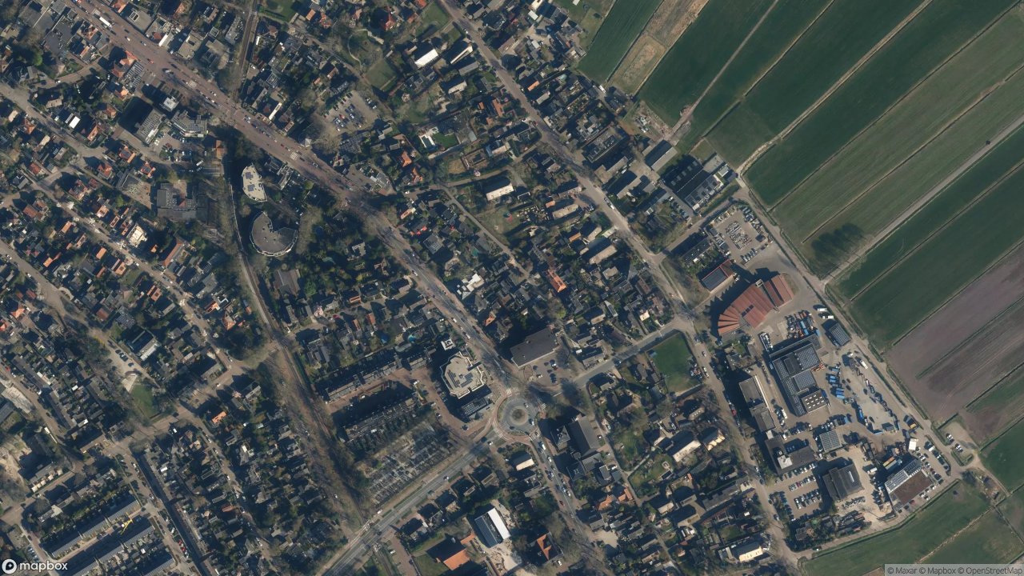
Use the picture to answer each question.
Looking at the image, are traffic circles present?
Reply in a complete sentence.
Yes, there is a traffic circle in the image.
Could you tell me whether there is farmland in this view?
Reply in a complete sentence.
Yes, there is farmland in the image.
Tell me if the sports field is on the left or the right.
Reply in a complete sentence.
You can find the sports field on the right side of the picture.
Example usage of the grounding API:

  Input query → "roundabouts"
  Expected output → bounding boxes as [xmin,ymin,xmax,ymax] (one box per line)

[489,385,548,444]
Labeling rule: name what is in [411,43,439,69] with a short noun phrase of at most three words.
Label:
house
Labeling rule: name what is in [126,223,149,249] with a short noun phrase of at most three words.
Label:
building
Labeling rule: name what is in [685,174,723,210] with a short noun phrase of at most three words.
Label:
building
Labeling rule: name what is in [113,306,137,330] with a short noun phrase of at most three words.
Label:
house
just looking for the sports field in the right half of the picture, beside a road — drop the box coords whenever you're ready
[646,330,702,393]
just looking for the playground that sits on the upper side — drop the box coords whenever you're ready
[474,206,518,246]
